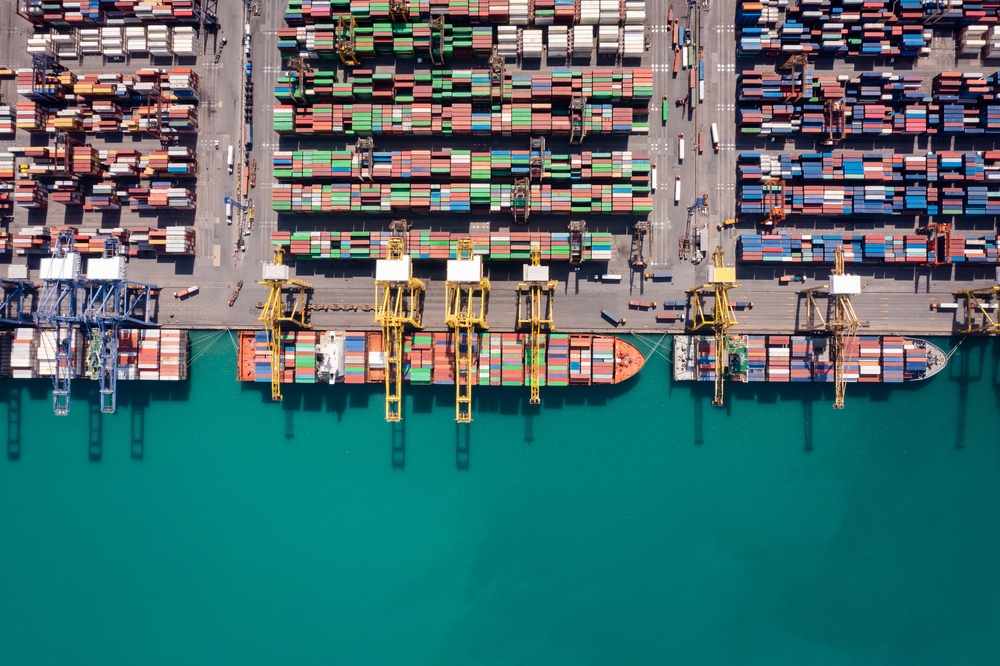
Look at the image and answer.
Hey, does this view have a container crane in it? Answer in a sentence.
Yes, a container crane is visible in the scene.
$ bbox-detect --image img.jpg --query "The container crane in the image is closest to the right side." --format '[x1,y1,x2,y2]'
[951,267,1000,327]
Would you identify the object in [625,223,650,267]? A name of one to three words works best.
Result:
container crane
